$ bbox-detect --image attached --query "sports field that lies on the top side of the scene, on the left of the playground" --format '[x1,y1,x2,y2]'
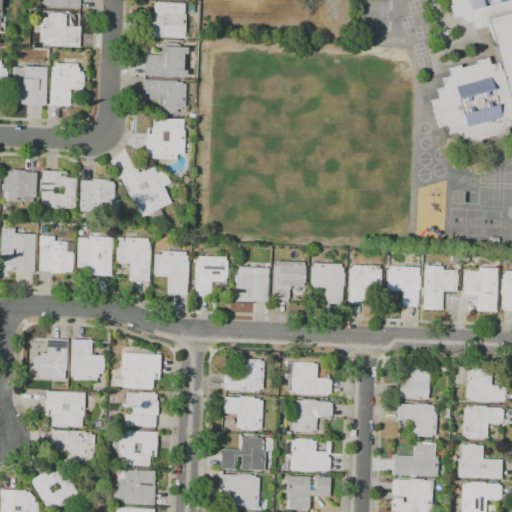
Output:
[205,46,413,240]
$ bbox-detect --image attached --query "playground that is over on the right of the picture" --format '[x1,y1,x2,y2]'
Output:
[416,180,447,238]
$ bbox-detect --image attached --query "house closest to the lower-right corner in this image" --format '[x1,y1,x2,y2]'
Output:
[462,483,503,512]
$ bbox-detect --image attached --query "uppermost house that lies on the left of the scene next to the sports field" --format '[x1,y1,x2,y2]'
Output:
[154,2,187,38]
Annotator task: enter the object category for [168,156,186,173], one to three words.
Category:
swimming pool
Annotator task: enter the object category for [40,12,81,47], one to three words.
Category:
house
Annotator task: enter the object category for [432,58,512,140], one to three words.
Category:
building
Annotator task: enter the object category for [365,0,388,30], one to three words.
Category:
sports court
